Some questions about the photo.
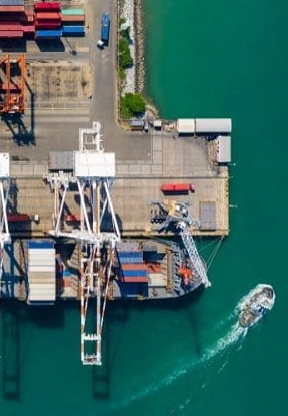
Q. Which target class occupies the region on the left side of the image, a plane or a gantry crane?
gantry crane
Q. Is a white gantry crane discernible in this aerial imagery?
Yes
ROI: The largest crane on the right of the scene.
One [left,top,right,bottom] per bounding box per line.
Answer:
[151,202,209,288]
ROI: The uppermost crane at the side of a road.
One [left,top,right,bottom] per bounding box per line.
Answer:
[0,56,26,117]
